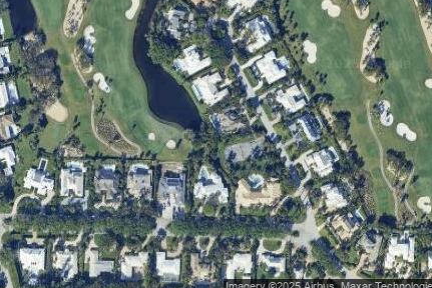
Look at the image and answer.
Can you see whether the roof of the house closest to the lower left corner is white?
Yes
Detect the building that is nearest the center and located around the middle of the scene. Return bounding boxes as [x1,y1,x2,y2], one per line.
[219,109,241,131]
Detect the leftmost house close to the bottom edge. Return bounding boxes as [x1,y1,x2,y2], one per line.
[20,246,46,278]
